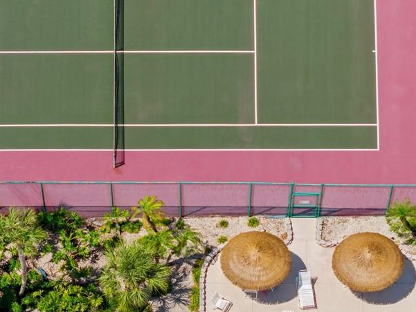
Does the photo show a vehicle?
No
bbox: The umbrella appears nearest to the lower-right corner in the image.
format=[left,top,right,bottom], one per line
[330,233,405,295]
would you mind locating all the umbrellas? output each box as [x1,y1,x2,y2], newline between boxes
[330,233,405,295]
[219,230,294,290]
